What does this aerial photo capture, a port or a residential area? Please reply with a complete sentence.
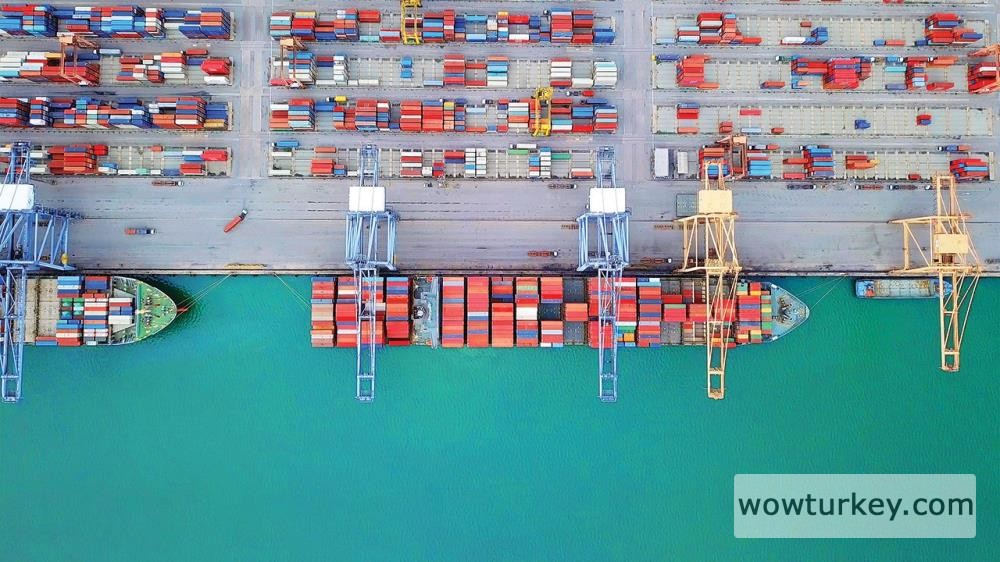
What you see here is a port.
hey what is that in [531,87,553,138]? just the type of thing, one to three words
container crane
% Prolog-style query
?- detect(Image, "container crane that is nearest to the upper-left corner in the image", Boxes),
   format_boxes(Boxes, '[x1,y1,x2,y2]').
[62,35,100,87]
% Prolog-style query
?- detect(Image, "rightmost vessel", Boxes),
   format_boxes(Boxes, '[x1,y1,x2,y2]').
[855,279,953,298]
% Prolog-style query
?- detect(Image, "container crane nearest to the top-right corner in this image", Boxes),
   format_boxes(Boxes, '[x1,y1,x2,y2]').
[966,40,1000,93]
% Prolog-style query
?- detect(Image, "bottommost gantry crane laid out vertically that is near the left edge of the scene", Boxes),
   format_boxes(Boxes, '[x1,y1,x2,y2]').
[0,141,86,401]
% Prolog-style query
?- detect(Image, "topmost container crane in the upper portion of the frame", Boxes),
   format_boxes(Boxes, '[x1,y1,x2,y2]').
[402,0,426,45]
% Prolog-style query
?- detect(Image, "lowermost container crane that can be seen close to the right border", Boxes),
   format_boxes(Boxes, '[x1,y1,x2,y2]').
[880,176,985,374]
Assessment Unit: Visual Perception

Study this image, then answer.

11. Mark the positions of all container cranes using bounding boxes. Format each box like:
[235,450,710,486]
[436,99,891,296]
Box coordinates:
[717,134,746,182]
[341,143,403,402]
[667,161,745,401]
[966,40,1000,93]
[531,87,553,138]
[880,176,985,374]
[280,37,308,89]
[62,35,100,87]
[570,147,636,403]
[402,0,426,45]
[0,141,86,401]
